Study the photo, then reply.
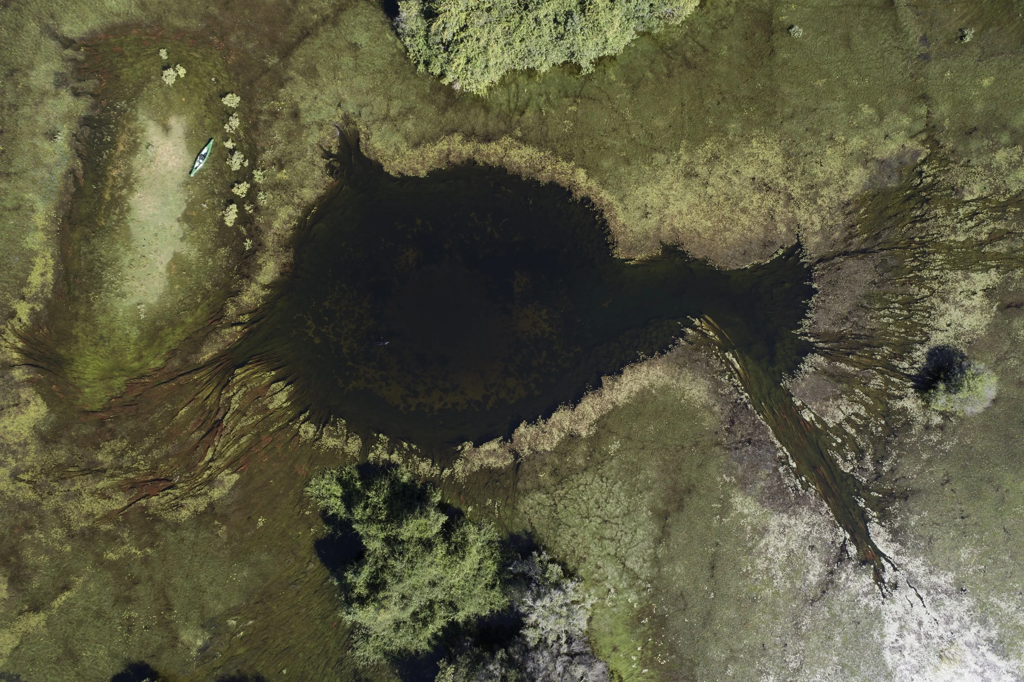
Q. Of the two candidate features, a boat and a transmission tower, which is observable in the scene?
boat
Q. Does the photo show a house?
No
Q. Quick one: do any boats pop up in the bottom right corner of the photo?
No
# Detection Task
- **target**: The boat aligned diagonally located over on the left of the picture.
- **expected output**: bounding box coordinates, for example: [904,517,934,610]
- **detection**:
[189,137,213,176]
